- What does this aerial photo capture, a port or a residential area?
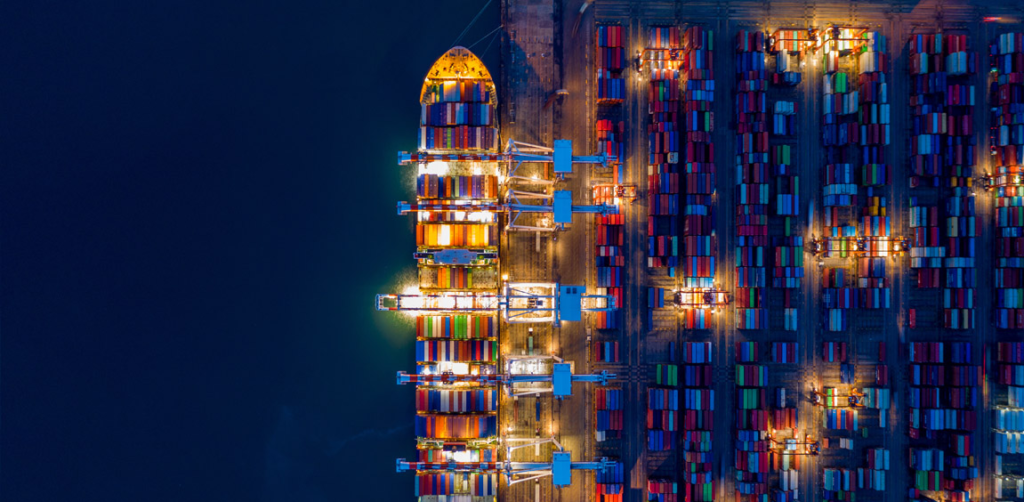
port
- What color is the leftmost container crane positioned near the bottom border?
blue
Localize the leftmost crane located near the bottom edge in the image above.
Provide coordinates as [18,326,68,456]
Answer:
[396,424,617,489]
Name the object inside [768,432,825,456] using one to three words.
container crane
